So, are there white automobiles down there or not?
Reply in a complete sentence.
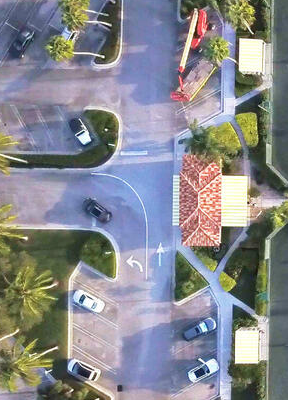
Yes, looking at the shot, I can spot a white automobile.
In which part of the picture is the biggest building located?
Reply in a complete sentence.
You can find the biggest building in the right area of the picture.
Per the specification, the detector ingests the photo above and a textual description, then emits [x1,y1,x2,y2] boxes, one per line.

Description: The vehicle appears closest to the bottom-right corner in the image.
[186,358,220,382]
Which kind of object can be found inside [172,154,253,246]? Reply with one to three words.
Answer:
building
